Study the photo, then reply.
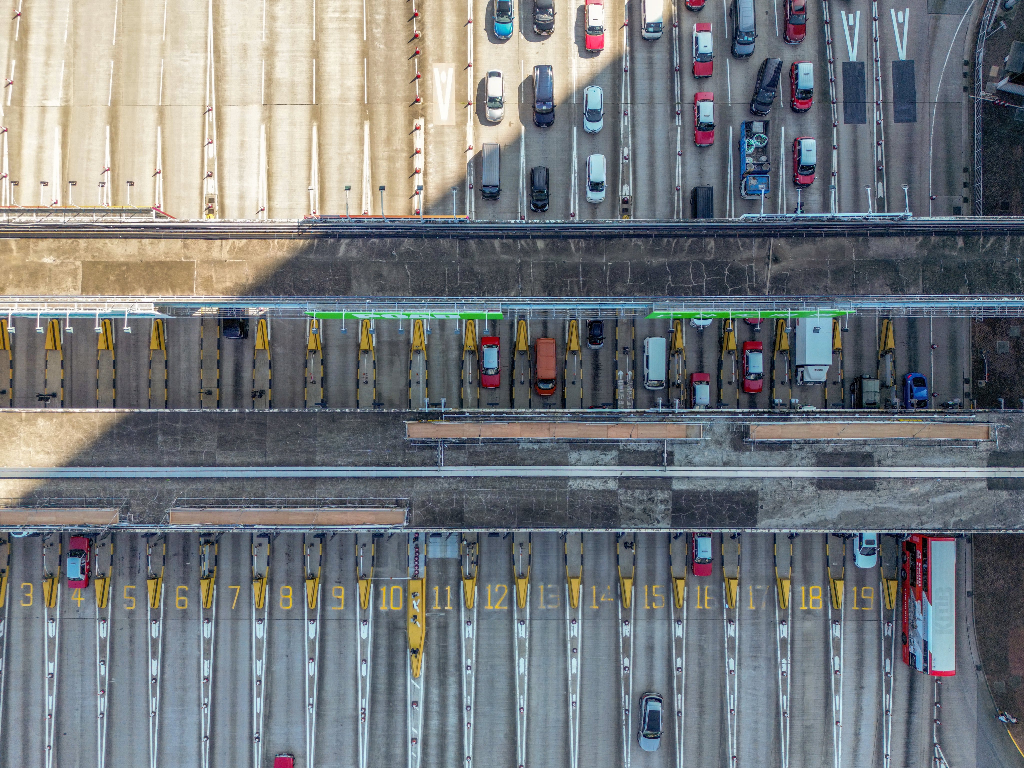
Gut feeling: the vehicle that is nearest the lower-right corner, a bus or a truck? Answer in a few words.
bus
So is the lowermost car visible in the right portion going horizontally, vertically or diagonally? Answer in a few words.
vertically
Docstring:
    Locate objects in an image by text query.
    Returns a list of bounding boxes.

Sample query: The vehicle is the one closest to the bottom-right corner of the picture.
[898,533,956,675]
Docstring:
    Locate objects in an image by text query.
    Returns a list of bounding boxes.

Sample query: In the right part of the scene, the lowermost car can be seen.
[638,692,664,748]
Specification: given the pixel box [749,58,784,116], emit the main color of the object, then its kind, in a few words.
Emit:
black van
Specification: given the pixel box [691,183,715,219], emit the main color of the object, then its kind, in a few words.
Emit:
black vehicle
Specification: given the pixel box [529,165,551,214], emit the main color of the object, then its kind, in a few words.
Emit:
black car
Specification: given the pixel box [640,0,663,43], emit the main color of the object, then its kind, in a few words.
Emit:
white vehicle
